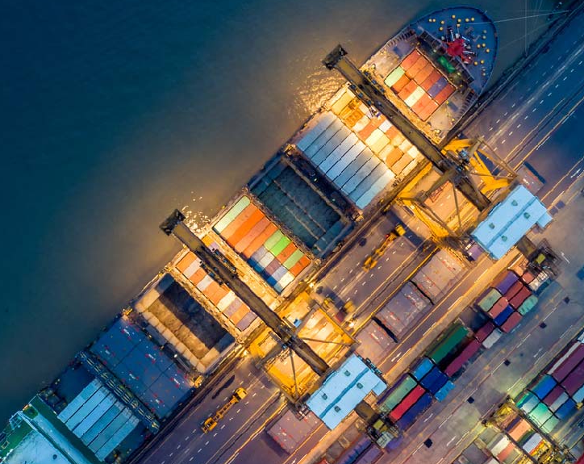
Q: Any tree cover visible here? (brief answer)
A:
No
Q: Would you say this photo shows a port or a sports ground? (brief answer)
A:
port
